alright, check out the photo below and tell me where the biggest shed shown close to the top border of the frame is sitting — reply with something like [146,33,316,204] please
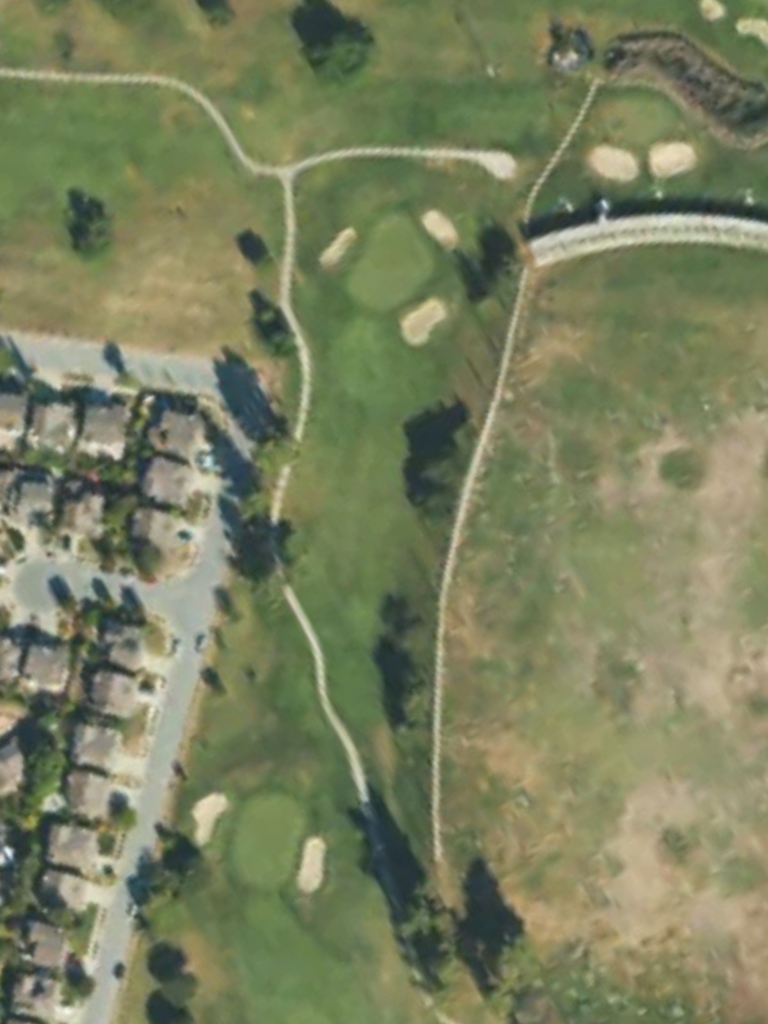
[555,50,578,67]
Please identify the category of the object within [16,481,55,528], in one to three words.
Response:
house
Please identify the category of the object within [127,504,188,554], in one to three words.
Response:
house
